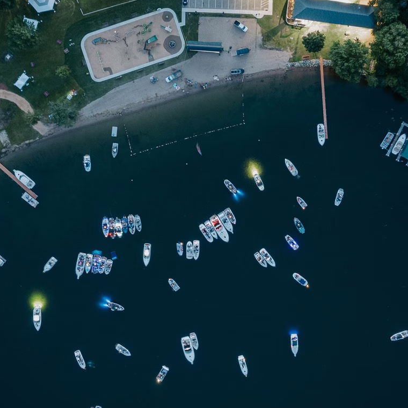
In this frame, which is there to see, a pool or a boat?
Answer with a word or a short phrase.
boat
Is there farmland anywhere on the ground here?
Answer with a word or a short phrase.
No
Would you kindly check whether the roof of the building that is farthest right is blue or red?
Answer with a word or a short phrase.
blue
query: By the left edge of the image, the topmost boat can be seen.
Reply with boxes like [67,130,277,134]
[14,170,37,190]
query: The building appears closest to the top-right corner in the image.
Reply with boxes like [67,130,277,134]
[293,0,375,31]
